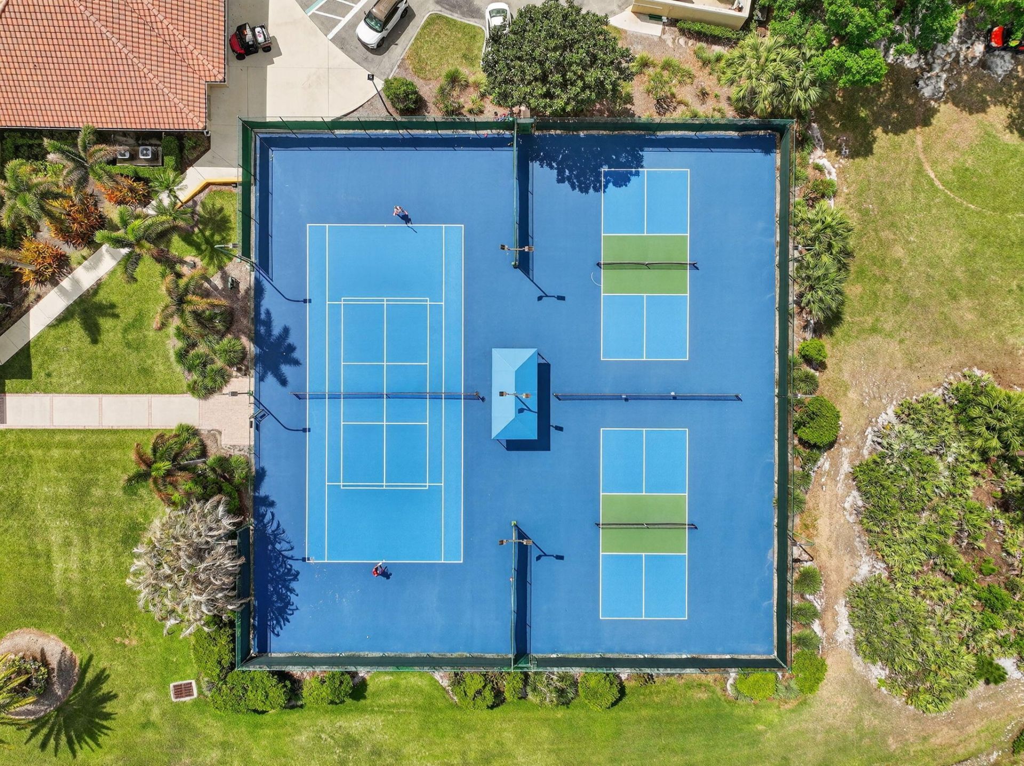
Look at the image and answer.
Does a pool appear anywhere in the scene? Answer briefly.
No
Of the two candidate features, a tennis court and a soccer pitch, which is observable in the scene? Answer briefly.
tennis court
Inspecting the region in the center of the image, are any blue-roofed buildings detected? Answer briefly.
Yes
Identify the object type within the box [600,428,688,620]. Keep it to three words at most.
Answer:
sports court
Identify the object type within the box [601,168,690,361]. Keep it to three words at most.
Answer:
sports court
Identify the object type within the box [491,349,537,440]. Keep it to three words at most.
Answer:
building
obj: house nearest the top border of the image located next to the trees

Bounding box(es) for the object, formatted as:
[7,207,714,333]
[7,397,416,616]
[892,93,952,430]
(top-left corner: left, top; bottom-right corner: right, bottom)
[0,0,230,150]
